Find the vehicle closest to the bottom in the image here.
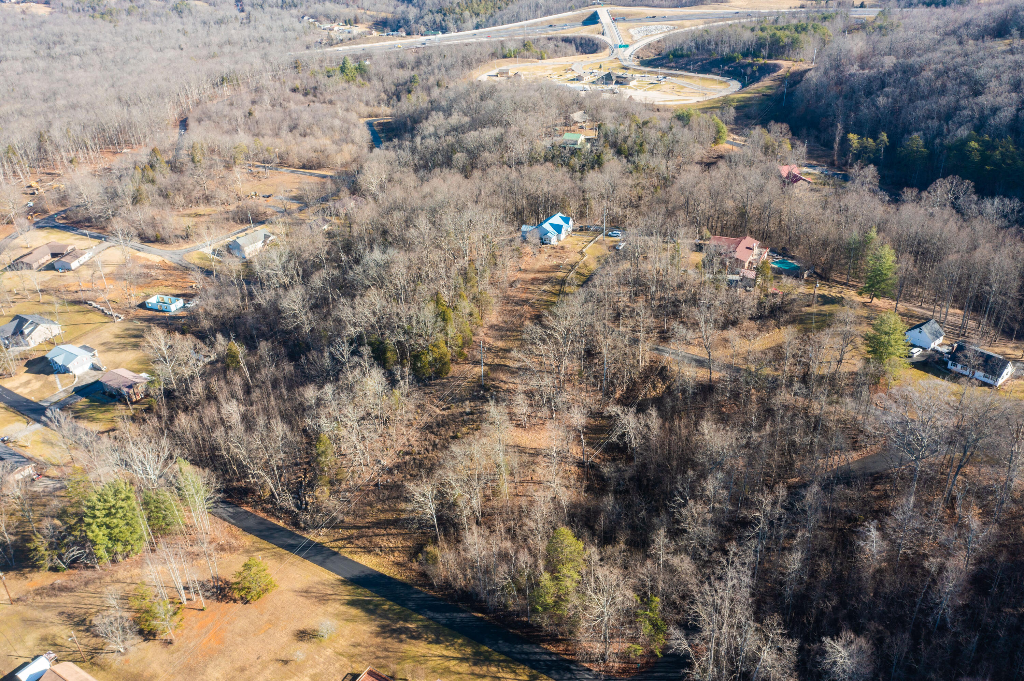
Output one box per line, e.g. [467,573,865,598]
[13,654,62,681]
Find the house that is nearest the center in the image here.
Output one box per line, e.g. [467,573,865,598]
[520,212,574,248]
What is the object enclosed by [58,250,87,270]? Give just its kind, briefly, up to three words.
shed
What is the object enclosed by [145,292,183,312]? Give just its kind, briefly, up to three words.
house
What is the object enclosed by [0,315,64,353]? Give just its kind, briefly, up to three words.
house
